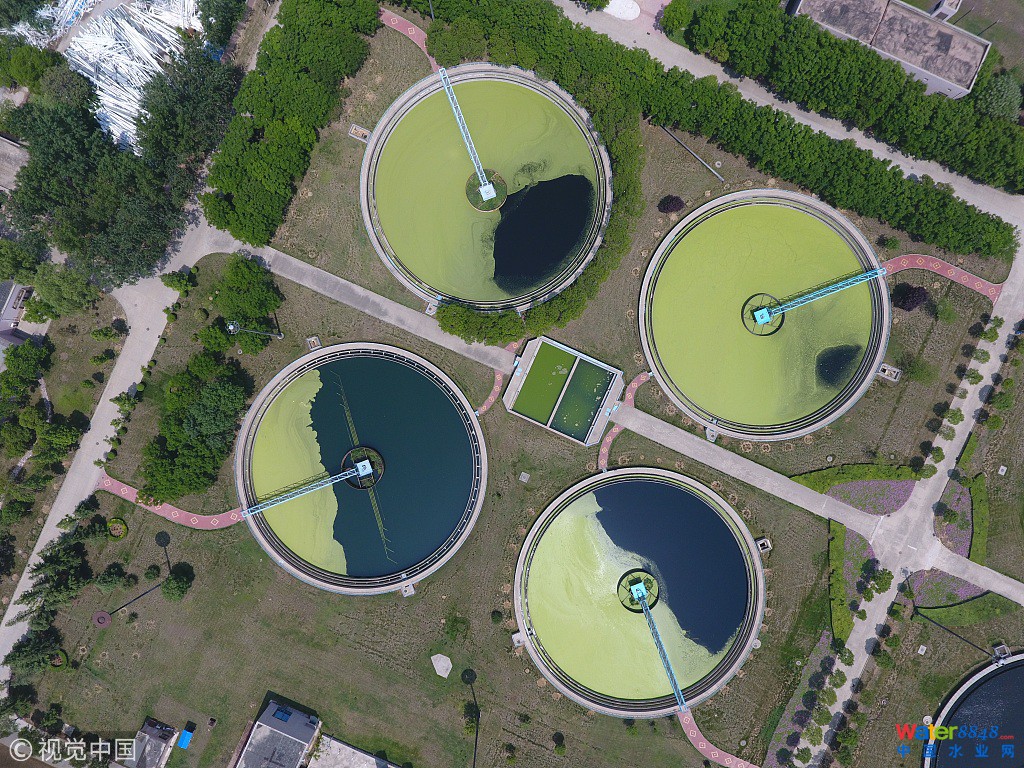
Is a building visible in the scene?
Yes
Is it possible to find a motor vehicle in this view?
No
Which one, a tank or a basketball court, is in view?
tank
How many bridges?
4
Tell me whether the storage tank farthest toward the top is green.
Yes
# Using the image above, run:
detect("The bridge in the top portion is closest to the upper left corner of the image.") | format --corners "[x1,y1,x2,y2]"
[437,65,487,185]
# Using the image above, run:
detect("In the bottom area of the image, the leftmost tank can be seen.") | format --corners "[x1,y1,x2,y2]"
[235,343,487,595]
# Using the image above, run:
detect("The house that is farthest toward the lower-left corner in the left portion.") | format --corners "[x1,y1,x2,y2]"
[122,718,178,768]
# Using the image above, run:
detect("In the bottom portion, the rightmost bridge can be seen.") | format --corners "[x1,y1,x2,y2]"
[638,598,689,714]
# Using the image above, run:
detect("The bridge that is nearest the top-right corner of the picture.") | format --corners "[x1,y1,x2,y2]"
[771,267,887,315]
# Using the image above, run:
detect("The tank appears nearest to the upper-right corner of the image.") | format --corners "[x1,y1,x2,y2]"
[636,188,893,441]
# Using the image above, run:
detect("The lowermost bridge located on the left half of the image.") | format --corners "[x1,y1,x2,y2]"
[240,467,358,518]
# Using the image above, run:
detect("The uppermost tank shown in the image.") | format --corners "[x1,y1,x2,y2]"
[362,60,612,313]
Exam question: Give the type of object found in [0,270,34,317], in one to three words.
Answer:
house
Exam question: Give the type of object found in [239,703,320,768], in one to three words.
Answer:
house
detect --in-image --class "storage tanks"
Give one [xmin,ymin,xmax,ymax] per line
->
[636,188,893,441]
[513,466,766,719]
[235,343,487,595]
[916,650,1024,768]
[362,60,612,313]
